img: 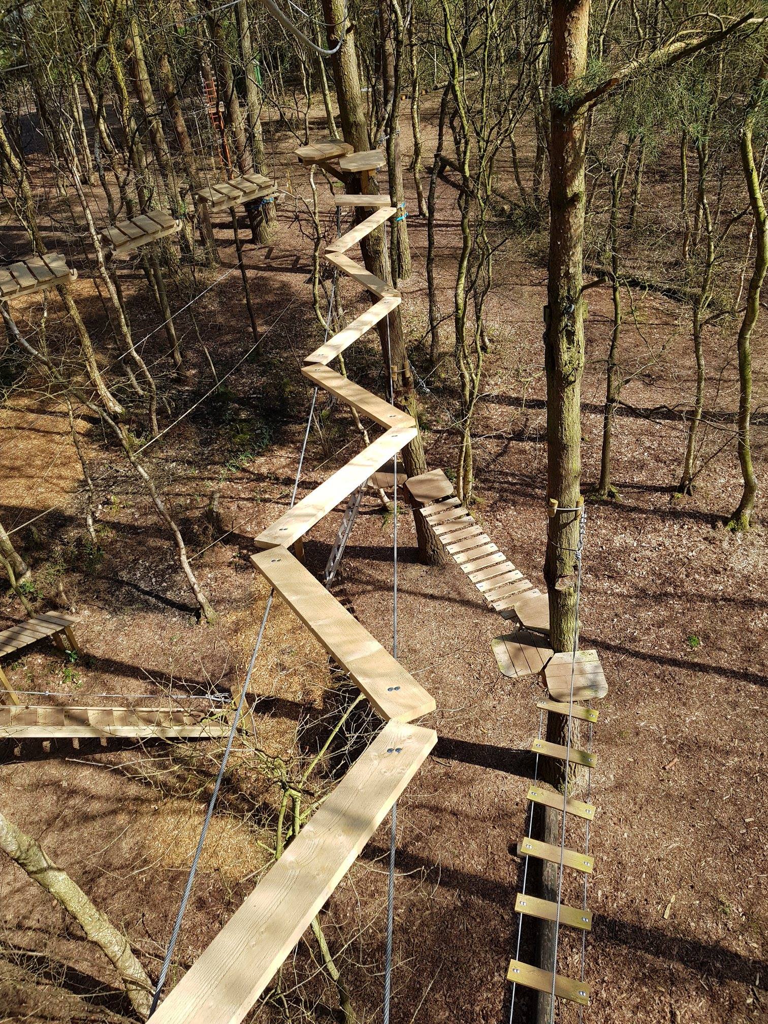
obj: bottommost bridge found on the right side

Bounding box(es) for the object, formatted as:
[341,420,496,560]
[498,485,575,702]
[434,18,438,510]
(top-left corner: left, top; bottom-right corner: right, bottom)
[508,682,598,1024]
